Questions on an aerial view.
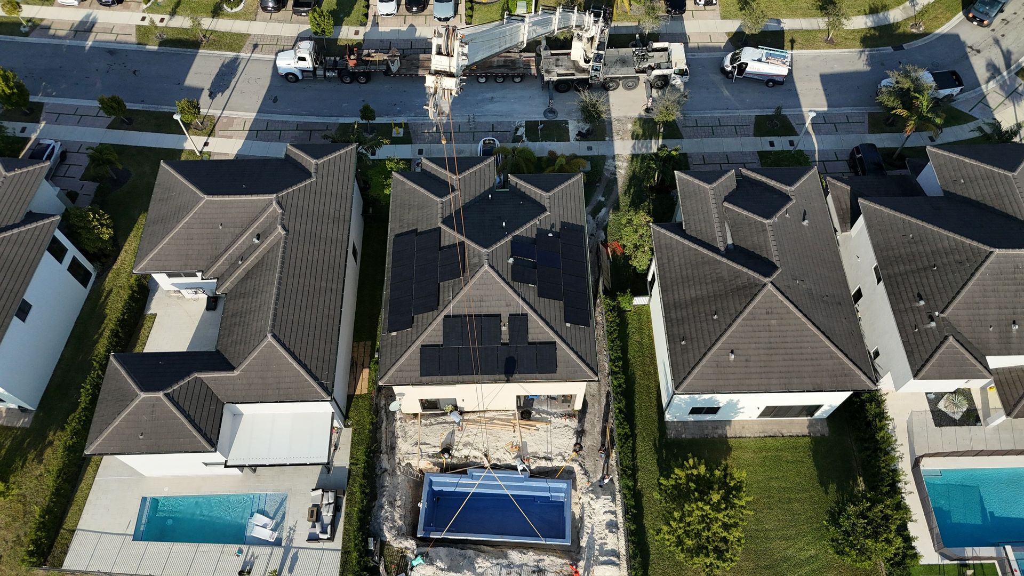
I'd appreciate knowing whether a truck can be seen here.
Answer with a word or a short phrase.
Yes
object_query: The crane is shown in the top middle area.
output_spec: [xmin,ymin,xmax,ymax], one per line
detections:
[417,1,701,127]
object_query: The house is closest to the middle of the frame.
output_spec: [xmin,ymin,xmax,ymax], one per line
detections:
[377,154,600,413]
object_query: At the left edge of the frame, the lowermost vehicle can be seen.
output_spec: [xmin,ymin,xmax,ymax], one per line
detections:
[30,134,75,178]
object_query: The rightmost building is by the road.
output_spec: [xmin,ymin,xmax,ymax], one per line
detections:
[826,145,1024,430]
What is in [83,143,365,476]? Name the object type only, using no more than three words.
house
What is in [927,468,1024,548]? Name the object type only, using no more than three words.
swimming pool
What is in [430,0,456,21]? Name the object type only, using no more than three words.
car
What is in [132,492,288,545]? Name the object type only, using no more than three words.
swimming pool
